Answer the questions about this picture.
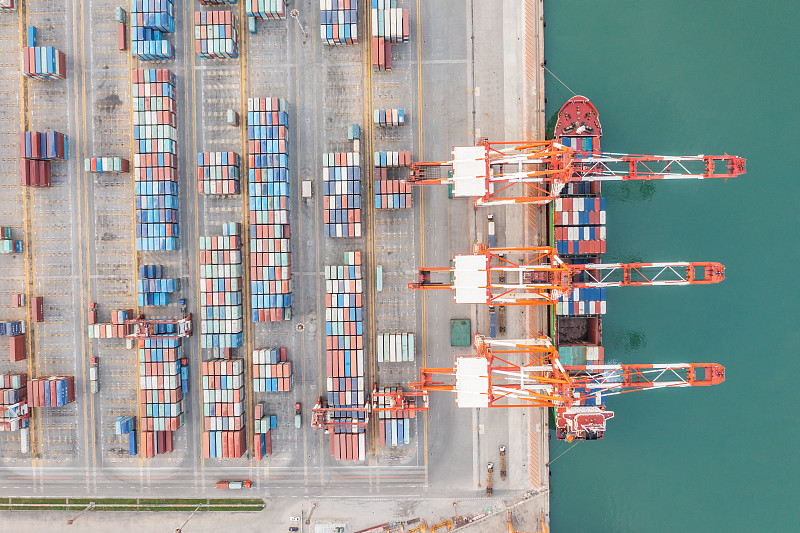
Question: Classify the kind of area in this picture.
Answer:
port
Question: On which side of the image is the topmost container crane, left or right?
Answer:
right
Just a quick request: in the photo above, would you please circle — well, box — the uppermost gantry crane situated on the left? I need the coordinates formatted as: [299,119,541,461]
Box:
[122,309,195,341]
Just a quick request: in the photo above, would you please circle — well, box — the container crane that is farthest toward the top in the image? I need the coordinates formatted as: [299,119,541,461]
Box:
[396,131,747,216]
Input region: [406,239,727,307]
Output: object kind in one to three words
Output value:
container crane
